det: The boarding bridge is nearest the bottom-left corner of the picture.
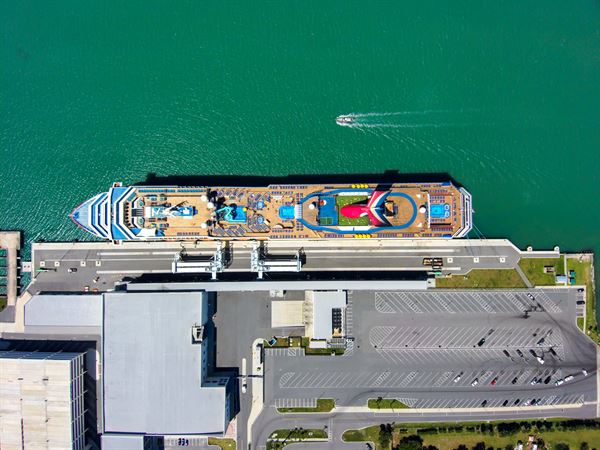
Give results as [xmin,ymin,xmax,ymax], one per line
[172,241,227,281]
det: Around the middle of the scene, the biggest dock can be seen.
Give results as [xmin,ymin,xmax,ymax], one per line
[32,237,561,294]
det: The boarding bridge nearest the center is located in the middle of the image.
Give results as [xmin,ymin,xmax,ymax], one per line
[251,241,306,281]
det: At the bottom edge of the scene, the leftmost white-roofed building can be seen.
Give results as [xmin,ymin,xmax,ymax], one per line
[0,350,88,450]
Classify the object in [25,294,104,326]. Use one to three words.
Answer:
building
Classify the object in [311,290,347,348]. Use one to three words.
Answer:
building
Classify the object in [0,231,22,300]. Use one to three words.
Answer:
pier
